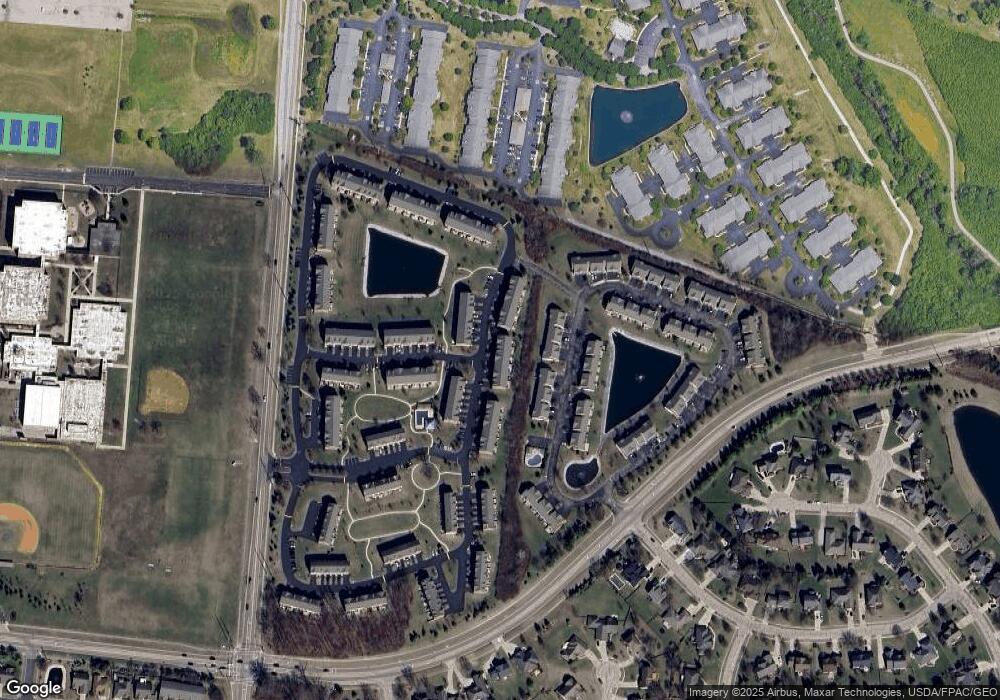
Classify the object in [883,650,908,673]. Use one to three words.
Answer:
house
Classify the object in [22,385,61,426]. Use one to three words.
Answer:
building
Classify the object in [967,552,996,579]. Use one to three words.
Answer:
house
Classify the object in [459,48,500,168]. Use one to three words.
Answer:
building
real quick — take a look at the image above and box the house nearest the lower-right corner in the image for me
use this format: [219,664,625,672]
[952,662,981,687]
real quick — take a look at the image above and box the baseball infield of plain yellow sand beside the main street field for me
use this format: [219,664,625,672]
[142,368,189,419]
